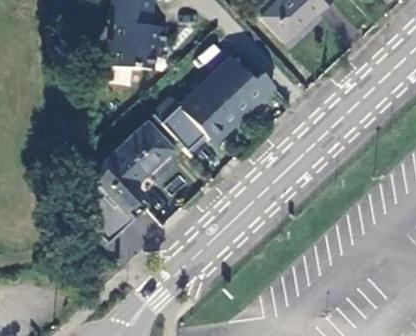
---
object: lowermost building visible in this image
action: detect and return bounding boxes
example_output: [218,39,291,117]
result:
[100,194,132,239]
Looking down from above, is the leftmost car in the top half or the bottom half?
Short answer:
bottom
